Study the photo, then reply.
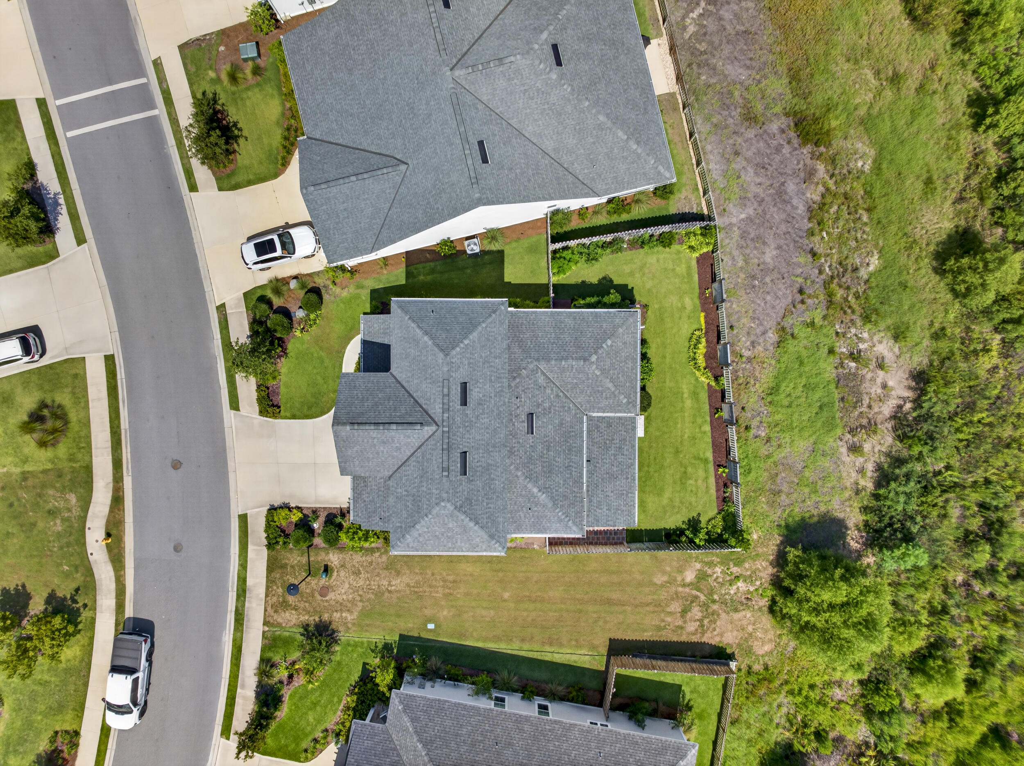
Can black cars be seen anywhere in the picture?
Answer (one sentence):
No, there's no black car here.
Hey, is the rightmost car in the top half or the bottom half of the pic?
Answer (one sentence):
The rightmost car sits in the top half of the picture.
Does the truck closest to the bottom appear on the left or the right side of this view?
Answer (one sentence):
The truck closest to the bottom is on the left side of the image.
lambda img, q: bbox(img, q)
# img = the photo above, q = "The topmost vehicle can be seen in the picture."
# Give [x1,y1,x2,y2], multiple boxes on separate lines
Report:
[237,224,320,273]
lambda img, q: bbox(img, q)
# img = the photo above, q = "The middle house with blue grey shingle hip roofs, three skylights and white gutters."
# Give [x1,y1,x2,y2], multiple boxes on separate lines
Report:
[334,296,643,556]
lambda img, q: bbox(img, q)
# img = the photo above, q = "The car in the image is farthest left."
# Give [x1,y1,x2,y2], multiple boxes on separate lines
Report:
[0,331,46,369]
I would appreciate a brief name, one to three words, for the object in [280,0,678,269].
house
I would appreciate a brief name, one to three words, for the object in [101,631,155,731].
truck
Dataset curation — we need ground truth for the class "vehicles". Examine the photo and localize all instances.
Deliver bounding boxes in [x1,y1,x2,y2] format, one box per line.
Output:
[0,331,46,369]
[101,631,155,731]
[237,224,320,273]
